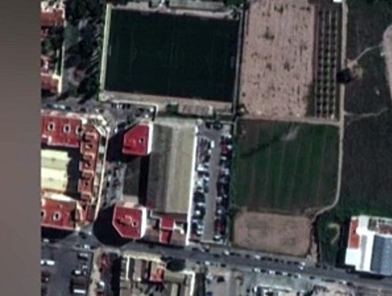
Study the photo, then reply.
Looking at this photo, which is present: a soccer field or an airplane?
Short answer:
soccer field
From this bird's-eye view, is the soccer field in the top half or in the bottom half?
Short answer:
top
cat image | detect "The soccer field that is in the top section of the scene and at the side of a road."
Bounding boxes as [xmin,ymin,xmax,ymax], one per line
[98,4,242,114]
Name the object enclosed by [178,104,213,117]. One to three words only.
building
